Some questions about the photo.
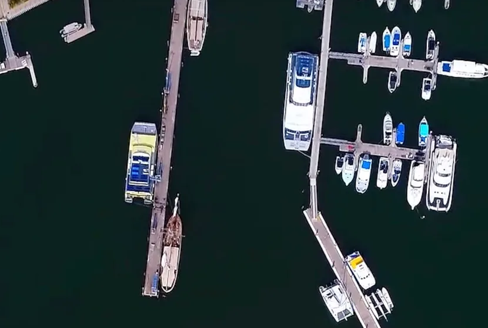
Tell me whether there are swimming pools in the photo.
No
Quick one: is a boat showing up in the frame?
Yes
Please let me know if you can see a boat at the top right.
Yes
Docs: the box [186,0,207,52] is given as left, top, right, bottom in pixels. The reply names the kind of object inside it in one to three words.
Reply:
ship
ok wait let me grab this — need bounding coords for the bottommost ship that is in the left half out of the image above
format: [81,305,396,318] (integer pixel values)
[160,197,181,293]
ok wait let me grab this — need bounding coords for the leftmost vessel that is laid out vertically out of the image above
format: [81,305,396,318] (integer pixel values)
[126,122,158,203]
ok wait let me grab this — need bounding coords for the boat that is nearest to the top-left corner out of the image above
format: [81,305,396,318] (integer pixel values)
[61,24,82,39]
